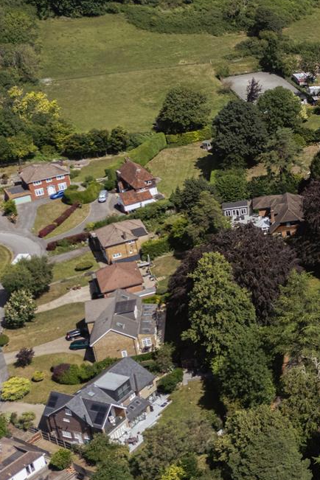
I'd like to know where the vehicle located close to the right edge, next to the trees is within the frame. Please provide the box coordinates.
[305,83,320,96]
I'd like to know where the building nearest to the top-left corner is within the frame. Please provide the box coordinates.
[11,156,75,207]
